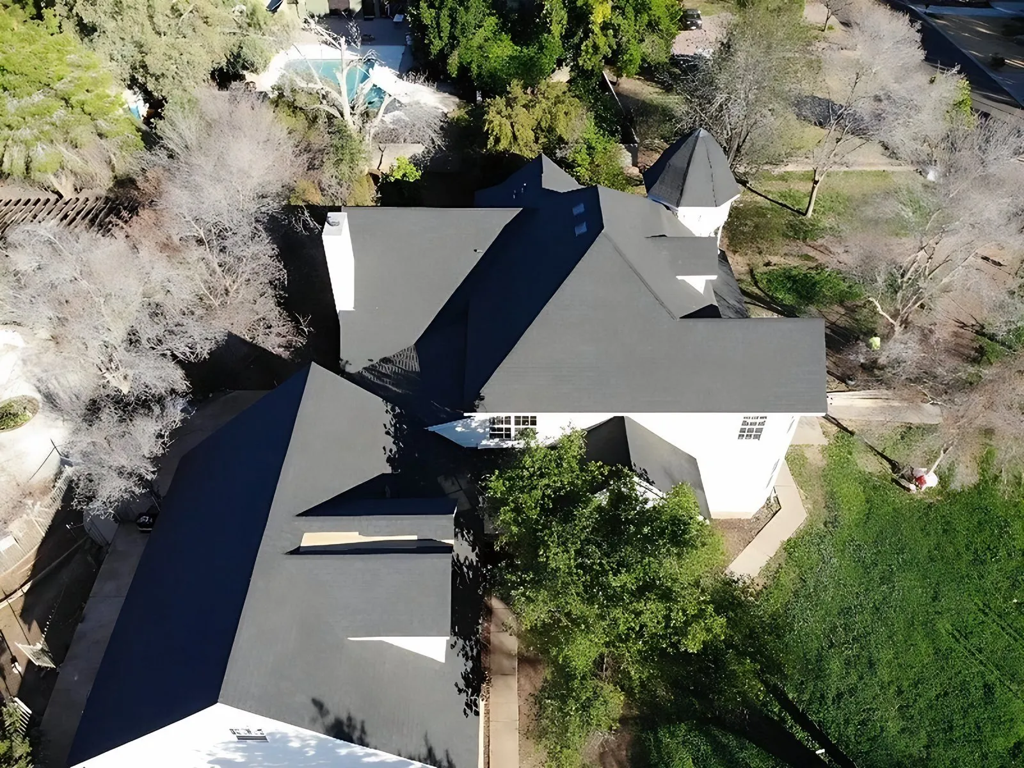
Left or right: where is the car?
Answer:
right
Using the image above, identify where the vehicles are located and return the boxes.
[676,0,703,25]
